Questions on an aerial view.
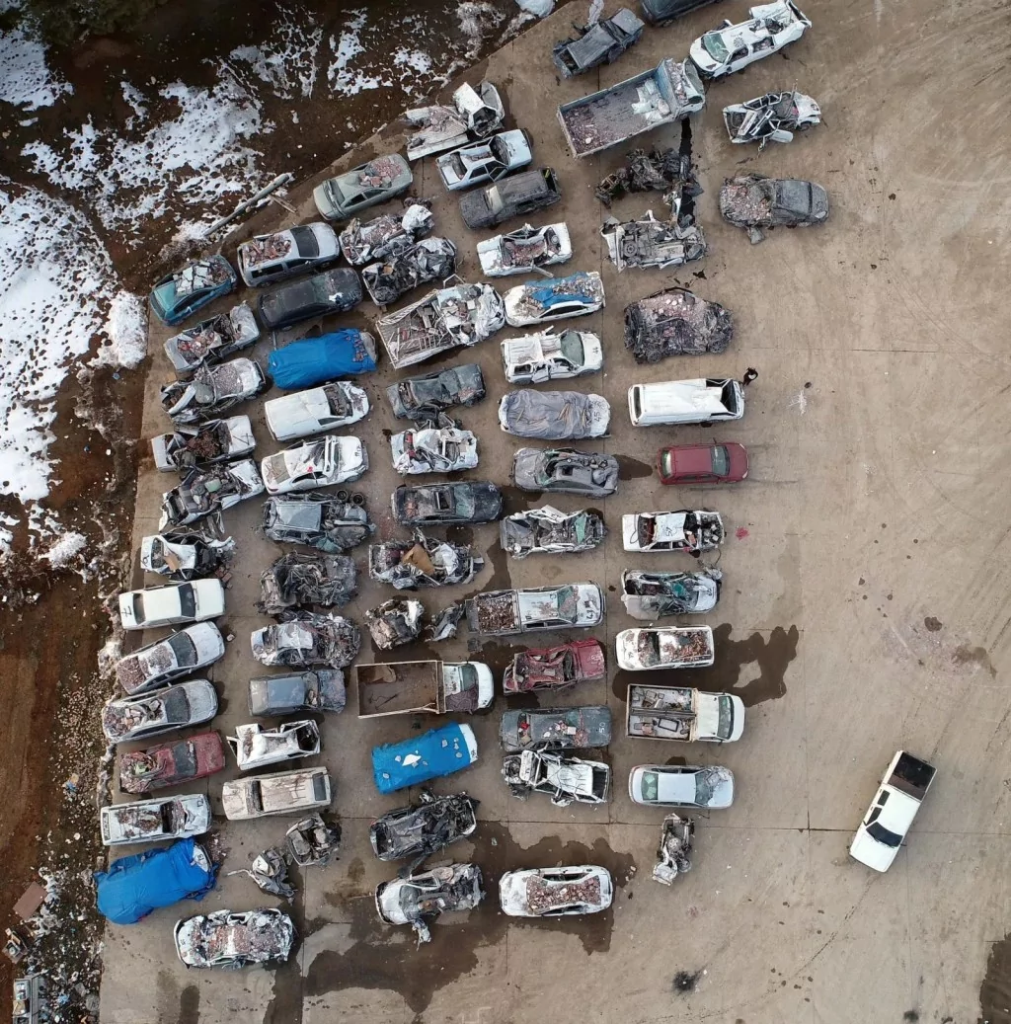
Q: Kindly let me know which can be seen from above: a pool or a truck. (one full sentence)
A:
Looking from above, you can make out a truck.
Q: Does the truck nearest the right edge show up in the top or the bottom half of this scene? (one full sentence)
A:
You can find the truck nearest the right edge in the bottom half.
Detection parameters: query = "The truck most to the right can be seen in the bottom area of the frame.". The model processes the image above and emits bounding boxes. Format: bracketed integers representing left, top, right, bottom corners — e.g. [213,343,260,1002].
[848,749,939,872]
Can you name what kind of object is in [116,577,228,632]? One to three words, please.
car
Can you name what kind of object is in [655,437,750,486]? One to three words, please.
car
